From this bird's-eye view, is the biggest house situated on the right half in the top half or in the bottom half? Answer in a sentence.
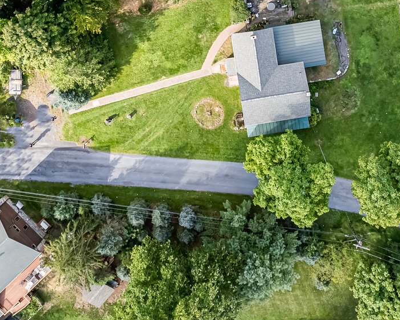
You can find the biggest house situated on the right half in the top half.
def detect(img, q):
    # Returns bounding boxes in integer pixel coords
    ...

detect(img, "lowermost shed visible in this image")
[82,281,109,307]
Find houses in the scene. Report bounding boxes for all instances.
[220,20,326,137]
[0,202,43,293]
